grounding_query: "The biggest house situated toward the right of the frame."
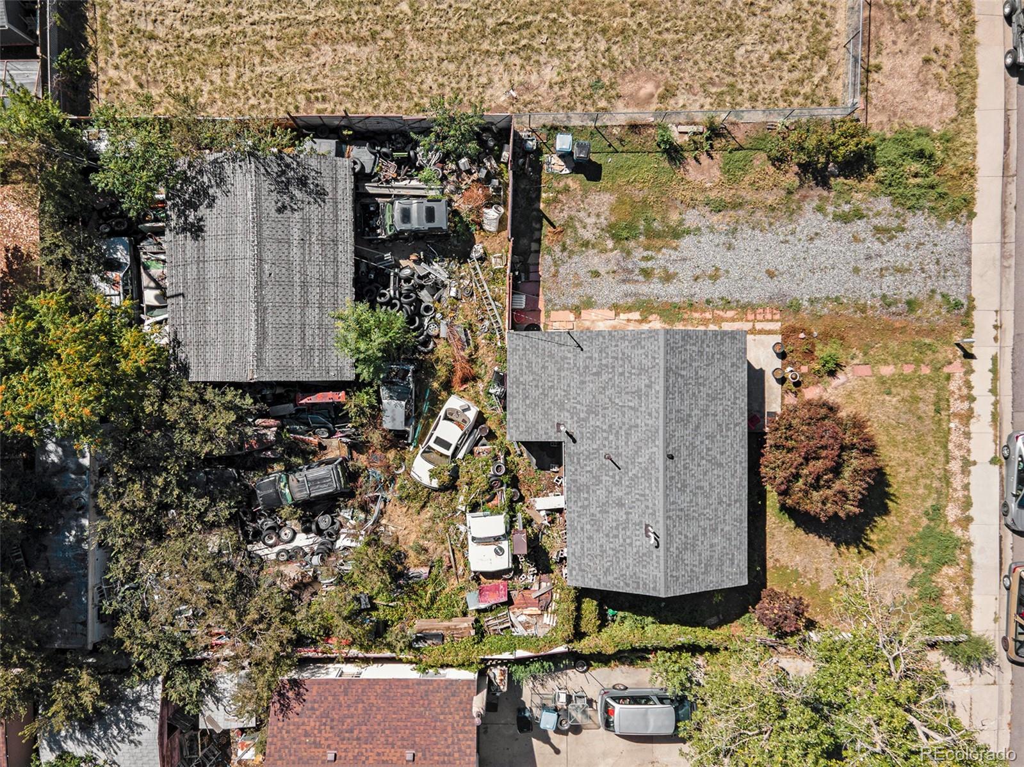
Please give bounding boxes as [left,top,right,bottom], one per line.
[506,328,747,593]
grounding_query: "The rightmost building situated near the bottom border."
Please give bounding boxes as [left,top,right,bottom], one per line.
[262,660,488,767]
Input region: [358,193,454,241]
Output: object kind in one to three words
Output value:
car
